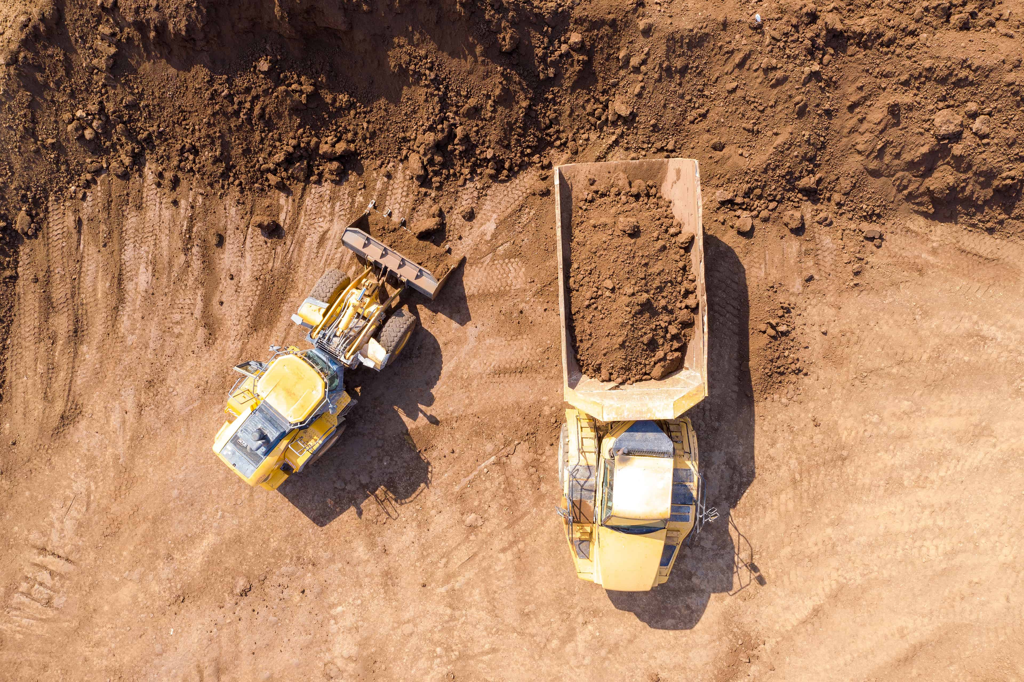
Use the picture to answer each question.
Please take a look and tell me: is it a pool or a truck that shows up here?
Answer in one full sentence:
There is a truck in the scene.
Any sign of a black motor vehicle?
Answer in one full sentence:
No, there's no black motor vehicle here.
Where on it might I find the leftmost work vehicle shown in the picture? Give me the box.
[214,197,464,490]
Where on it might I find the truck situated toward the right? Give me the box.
[555,160,721,592]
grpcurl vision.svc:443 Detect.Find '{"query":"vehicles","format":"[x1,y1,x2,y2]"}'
[555,160,721,592]
[214,197,464,490]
